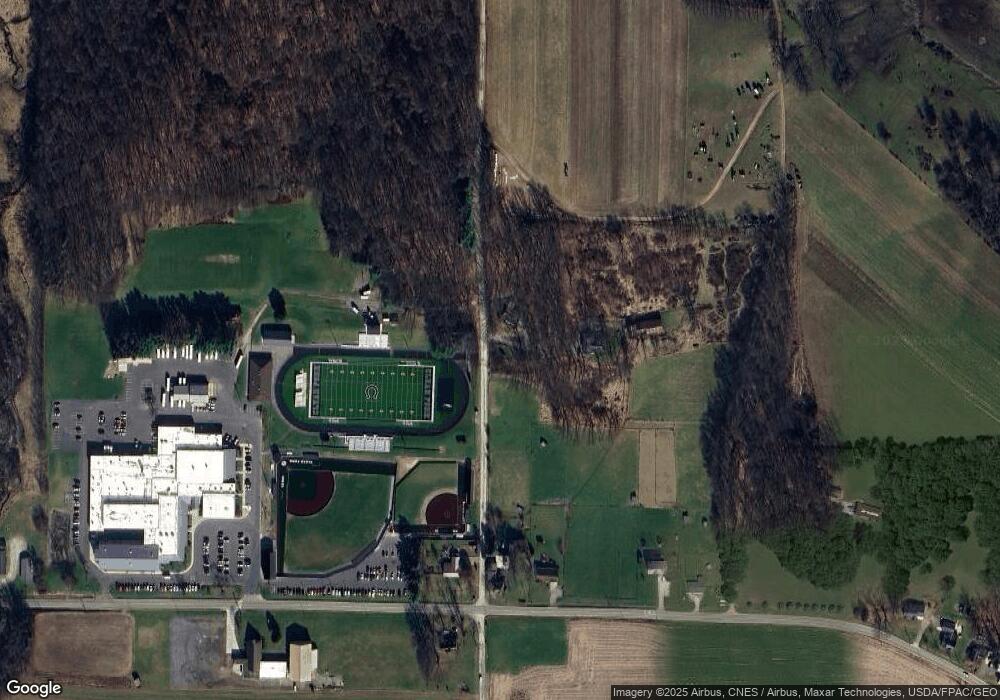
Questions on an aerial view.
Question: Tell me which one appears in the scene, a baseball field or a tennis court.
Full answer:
Visible in the photo is a baseball field.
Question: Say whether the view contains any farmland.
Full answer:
Yes, farmland shows up in the scene.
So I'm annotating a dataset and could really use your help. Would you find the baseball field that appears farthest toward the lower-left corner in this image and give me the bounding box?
[277,457,396,578]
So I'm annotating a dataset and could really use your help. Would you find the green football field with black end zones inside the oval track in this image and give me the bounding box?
[282,356,460,427]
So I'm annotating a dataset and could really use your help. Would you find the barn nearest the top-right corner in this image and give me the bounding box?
[625,314,664,334]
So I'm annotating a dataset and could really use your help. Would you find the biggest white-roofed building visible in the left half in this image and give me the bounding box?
[90,427,235,572]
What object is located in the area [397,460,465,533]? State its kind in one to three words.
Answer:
baseball field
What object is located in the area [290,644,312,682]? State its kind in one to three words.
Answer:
barn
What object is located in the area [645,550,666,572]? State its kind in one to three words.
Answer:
house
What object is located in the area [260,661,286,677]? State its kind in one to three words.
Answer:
shed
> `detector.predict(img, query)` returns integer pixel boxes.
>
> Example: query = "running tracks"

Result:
[269,342,470,437]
